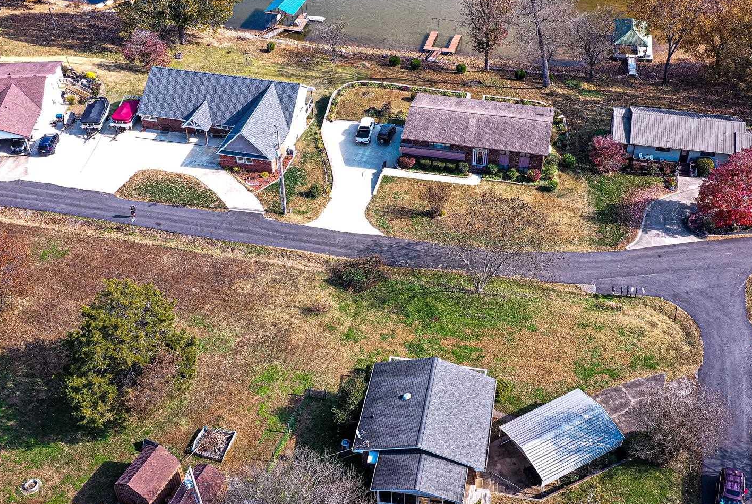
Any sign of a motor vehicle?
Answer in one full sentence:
Yes, there's a motor vehicle here.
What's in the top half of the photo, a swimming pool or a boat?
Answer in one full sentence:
What appears in the top half of the photo is a boat.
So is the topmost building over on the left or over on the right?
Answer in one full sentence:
It is on the right.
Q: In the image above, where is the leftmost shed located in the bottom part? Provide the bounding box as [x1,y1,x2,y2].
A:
[114,444,181,504]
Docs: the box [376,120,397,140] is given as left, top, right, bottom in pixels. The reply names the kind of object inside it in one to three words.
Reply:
car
